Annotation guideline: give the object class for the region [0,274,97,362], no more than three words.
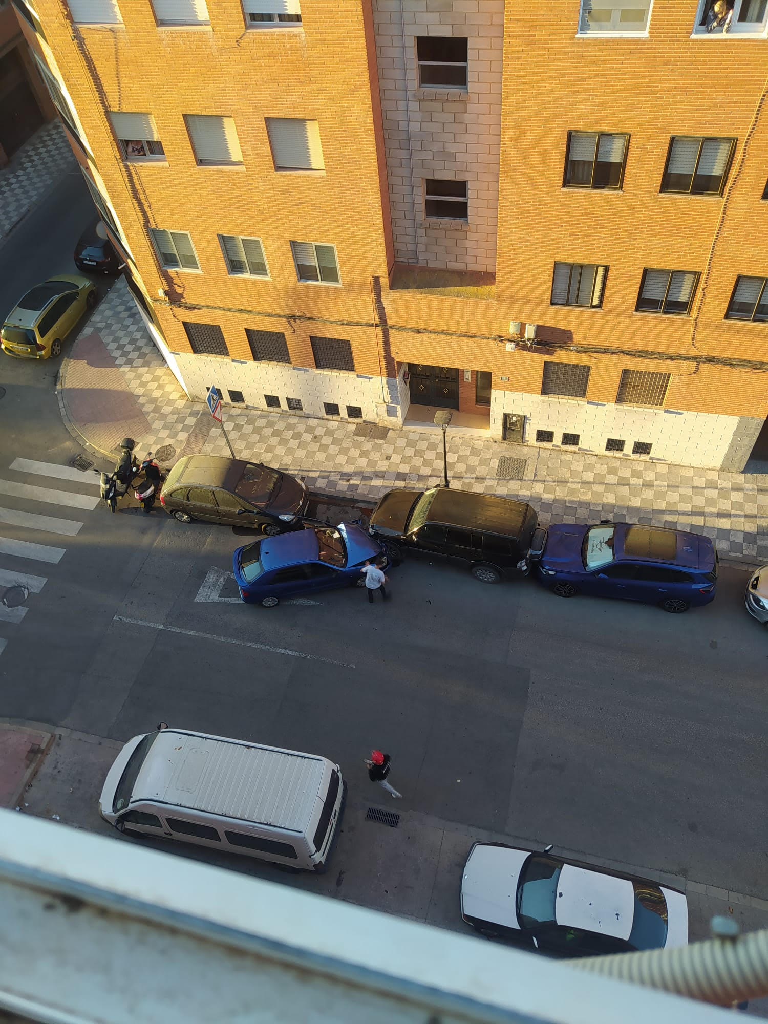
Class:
car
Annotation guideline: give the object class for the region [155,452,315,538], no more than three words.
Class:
car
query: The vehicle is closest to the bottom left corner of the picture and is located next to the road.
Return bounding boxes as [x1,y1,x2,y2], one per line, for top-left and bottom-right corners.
[96,719,353,871]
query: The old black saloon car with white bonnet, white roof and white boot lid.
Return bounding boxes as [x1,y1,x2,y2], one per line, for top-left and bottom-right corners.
[450,837,691,959]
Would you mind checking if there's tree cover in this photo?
No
